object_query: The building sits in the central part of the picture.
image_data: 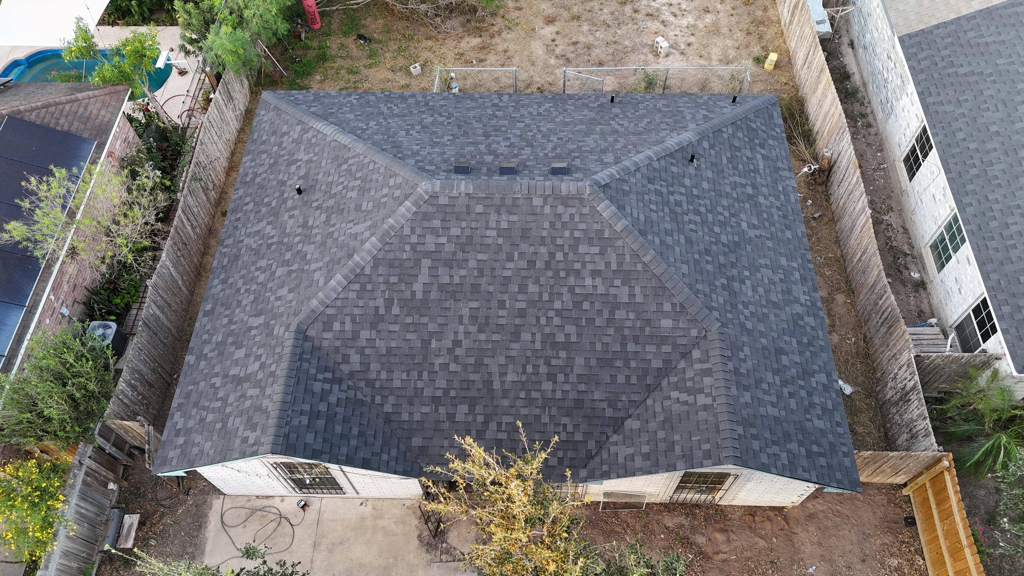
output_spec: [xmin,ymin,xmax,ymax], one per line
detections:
[154,89,864,508]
